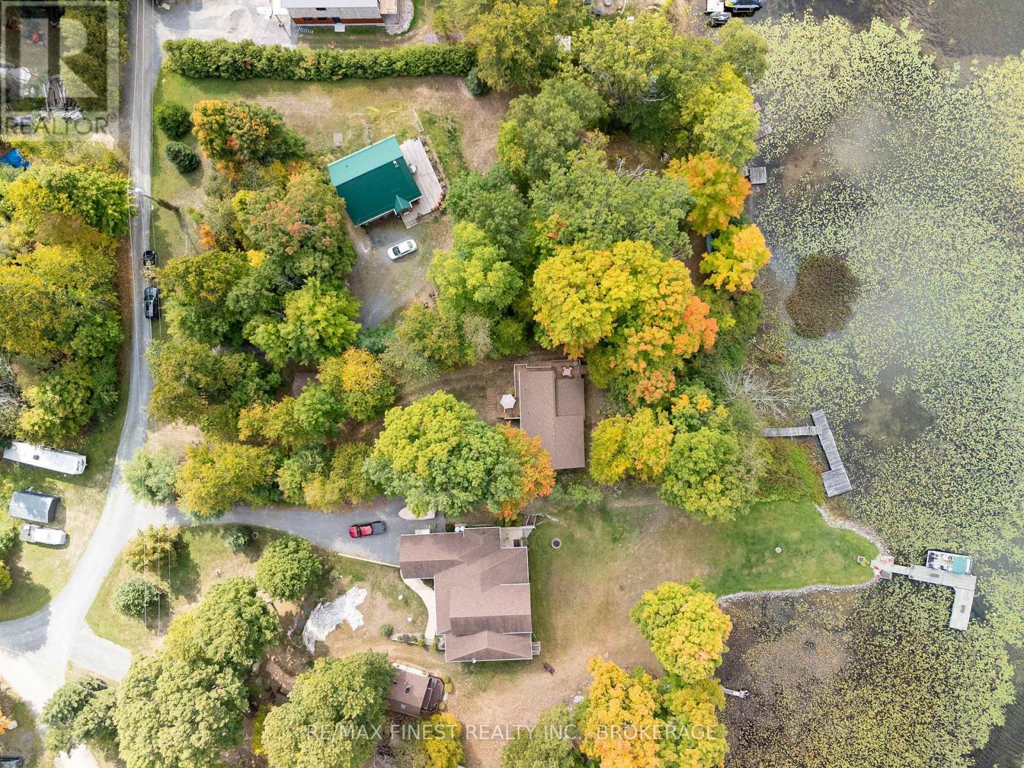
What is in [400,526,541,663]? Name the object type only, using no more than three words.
house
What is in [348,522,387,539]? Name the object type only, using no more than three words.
vehicle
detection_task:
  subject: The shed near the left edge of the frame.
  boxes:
[1,489,54,524]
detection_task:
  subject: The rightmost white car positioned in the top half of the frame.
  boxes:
[385,238,417,259]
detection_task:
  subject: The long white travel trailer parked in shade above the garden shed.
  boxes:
[8,440,98,473]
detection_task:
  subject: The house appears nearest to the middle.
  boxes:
[487,359,588,470]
